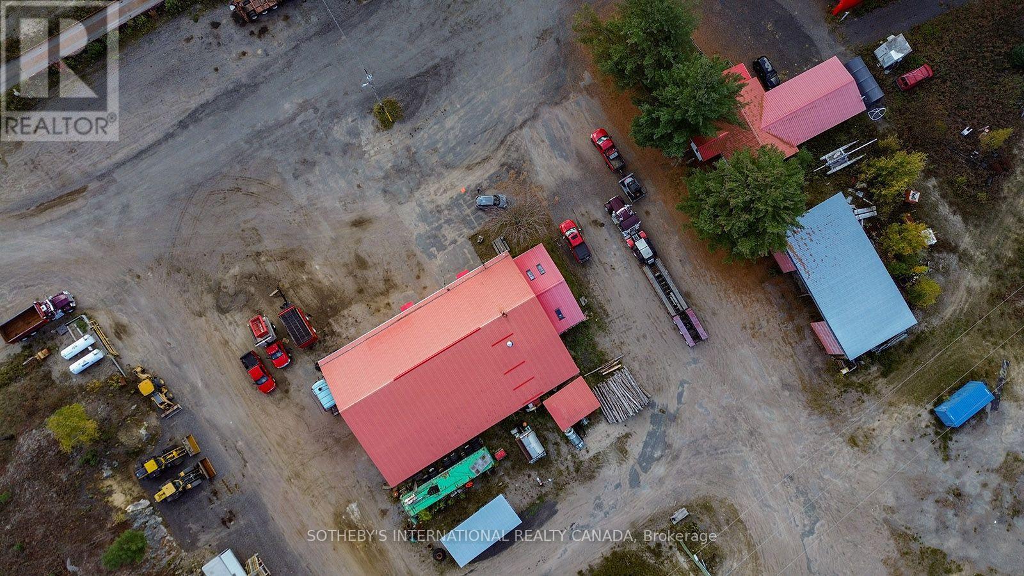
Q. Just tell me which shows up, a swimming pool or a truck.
truck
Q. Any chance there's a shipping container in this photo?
Yes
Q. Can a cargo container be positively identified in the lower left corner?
No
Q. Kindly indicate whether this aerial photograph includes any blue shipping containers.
Yes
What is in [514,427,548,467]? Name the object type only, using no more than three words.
truck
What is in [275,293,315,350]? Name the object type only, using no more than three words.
trailer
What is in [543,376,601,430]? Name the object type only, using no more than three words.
shed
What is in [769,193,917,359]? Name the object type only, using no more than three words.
barn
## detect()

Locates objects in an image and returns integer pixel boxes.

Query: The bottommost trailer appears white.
[205,542,256,576]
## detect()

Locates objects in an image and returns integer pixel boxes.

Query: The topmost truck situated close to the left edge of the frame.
[0,290,77,345]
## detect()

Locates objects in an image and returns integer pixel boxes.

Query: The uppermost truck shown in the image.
[222,0,272,27]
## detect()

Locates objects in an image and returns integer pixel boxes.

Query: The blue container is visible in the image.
[934,382,995,427]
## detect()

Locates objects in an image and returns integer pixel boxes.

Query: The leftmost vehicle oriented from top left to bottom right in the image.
[131,372,183,417]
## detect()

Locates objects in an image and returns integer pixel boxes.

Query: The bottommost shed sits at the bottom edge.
[440,492,522,567]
